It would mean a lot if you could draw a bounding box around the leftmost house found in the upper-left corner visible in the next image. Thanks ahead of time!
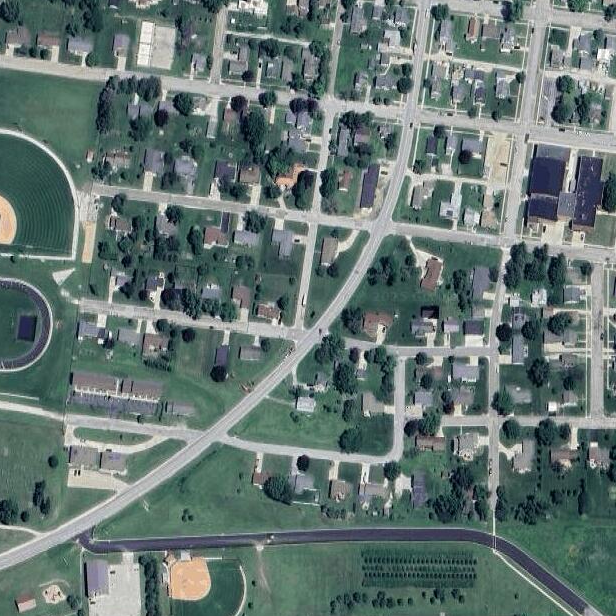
[6,28,32,46]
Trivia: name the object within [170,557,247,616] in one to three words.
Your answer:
baseball field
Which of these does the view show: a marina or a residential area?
residential area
